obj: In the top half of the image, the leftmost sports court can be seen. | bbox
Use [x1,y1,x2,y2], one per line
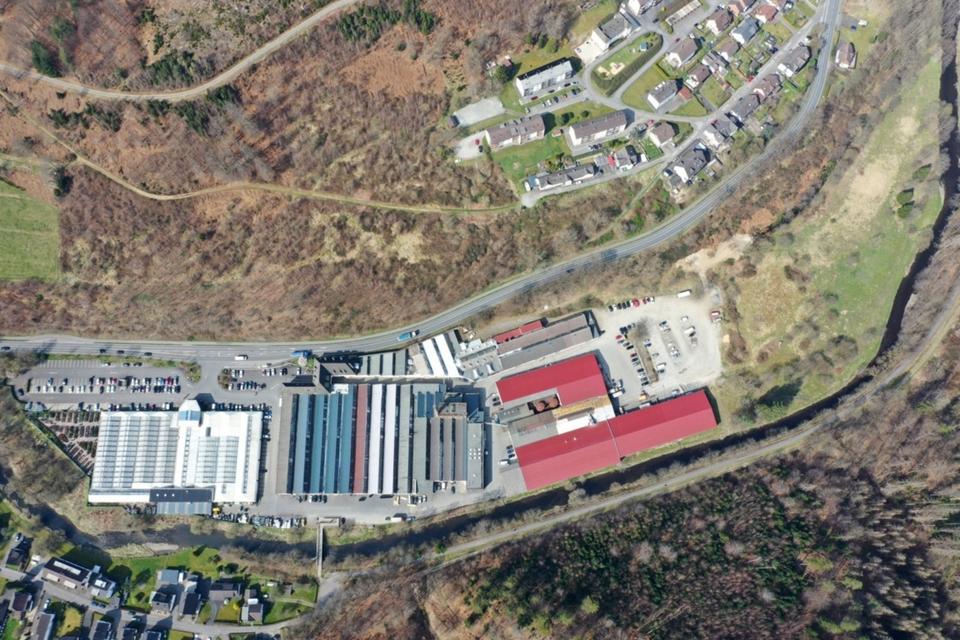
[453,97,503,127]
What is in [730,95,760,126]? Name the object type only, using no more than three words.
house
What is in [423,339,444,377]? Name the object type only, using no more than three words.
shed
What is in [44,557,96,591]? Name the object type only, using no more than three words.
building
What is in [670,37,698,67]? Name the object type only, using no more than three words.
house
